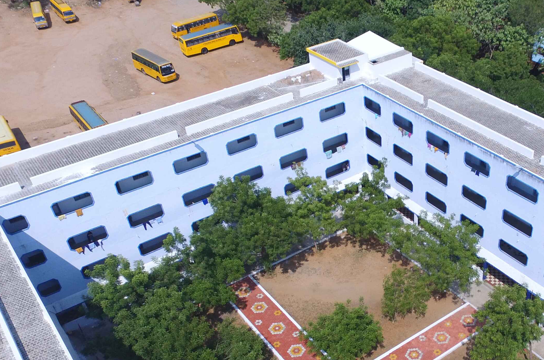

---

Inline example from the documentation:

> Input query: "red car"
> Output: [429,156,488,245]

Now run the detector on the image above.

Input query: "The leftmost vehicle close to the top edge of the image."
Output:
[29,2,47,27]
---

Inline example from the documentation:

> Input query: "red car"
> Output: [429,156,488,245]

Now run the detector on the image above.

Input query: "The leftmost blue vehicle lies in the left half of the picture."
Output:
[68,101,105,129]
